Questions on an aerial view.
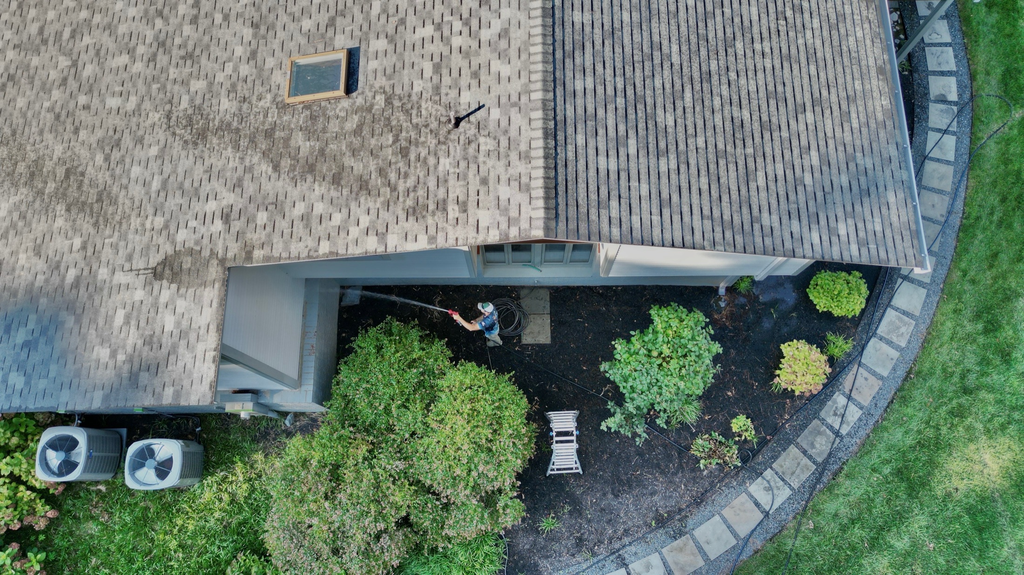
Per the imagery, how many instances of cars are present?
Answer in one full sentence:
The photo contains no cars.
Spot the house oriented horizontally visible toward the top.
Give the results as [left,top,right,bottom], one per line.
[0,0,938,415]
